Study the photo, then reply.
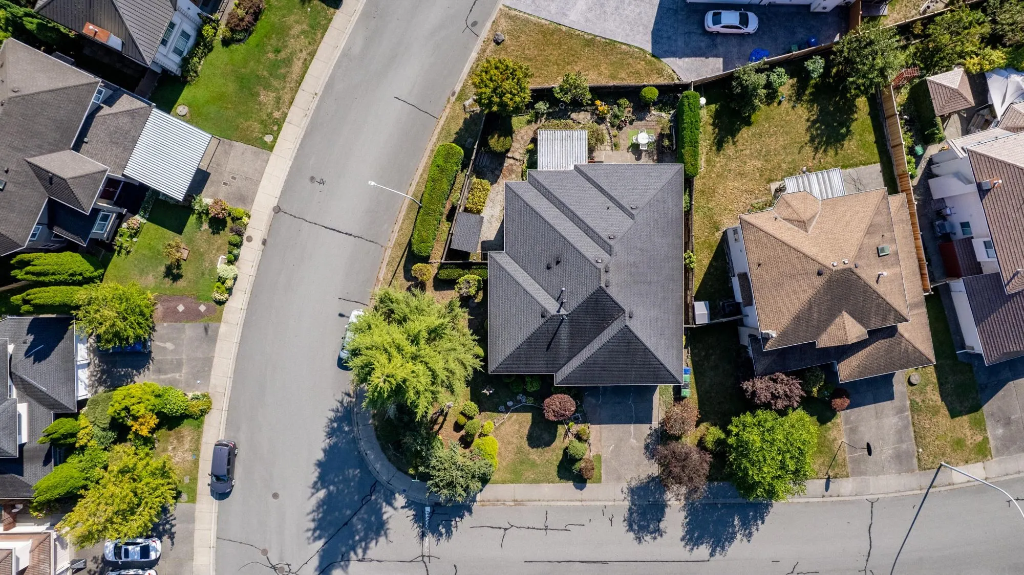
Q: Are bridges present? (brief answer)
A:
No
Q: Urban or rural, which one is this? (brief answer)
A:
urban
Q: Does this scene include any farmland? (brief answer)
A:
No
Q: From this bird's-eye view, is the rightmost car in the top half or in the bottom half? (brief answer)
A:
top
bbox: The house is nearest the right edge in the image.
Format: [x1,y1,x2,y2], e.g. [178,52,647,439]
[916,98,1024,366]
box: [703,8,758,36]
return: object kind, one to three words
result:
car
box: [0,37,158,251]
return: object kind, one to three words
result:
house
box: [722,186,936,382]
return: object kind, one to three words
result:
house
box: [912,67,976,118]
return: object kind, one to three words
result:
gazebo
